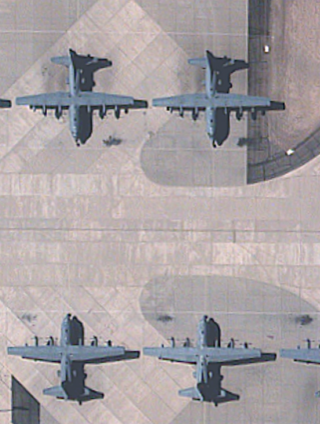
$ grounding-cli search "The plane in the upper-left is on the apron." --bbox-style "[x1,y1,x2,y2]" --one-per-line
[16,48,134,141]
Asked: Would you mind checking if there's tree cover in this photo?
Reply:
No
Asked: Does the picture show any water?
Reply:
No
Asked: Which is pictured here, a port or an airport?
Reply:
airport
